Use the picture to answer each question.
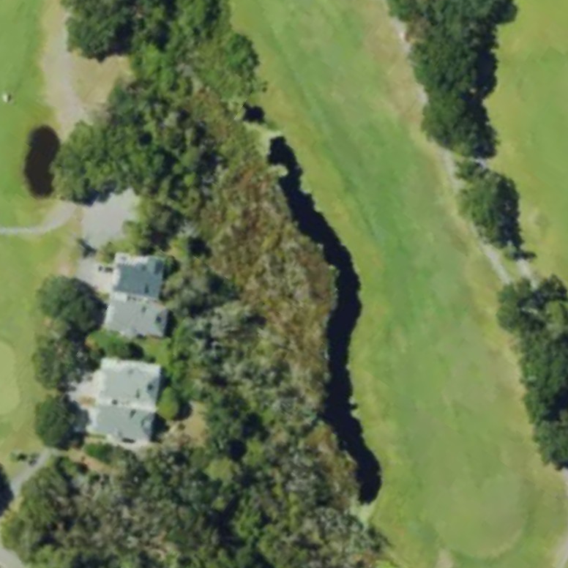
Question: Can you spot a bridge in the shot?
No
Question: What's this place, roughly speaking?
golf course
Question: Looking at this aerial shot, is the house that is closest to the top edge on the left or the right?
left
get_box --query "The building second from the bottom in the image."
[96,358,161,409]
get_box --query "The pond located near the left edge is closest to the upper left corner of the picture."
[25,125,61,198]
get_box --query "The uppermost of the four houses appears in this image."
[107,254,165,303]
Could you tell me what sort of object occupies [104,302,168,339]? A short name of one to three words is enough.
house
